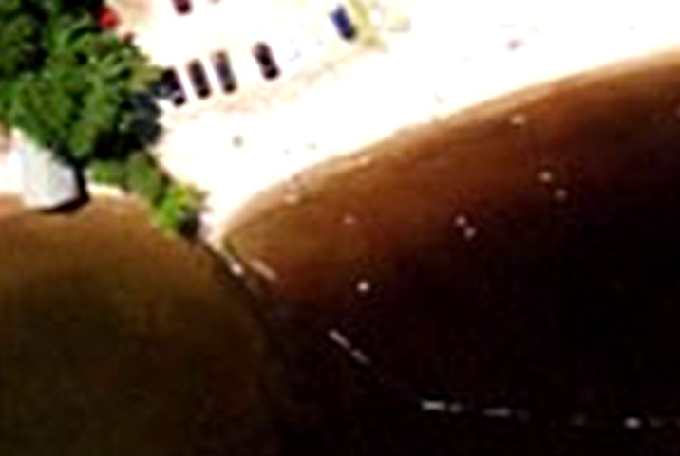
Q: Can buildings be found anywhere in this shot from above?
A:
Yes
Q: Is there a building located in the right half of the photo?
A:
No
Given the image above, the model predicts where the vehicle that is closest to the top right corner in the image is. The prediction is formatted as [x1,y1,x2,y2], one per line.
[329,1,355,43]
